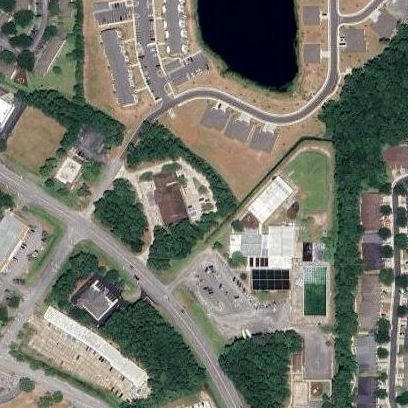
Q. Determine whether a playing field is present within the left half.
No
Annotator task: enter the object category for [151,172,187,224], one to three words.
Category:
building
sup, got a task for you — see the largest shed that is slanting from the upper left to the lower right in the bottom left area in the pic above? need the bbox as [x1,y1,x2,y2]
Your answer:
[44,306,147,388]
